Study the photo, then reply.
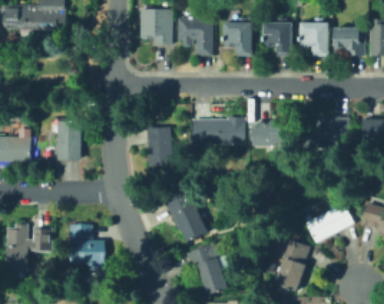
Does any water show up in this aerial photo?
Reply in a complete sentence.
No, there is no water in the image.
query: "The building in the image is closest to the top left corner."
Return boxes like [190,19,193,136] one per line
[2,0,66,30]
